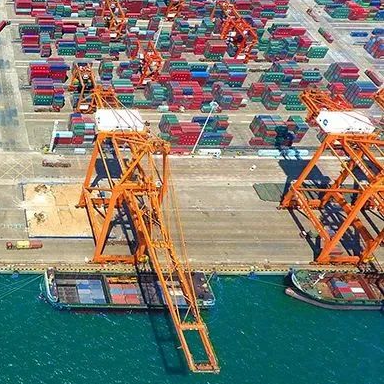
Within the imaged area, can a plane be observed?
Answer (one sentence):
No, there's no plane here.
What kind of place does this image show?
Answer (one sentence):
The area seen from above is a port.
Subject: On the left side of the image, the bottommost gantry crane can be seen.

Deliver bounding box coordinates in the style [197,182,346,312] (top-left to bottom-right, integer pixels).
[72,87,227,373]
